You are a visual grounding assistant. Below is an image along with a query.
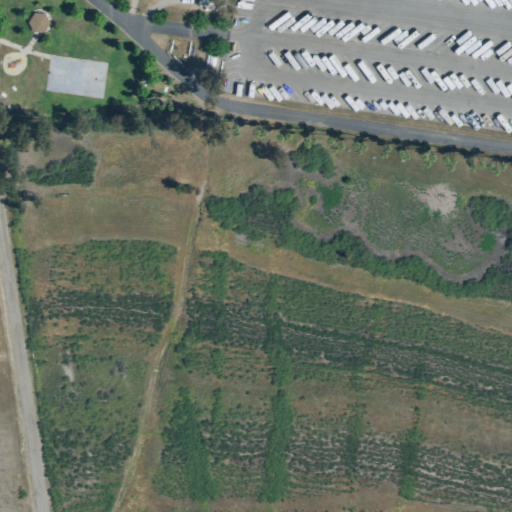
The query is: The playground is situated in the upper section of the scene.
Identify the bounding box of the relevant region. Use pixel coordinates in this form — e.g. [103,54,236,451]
[2,52,28,76]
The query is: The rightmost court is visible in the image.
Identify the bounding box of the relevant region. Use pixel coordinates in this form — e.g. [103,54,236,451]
[47,56,108,98]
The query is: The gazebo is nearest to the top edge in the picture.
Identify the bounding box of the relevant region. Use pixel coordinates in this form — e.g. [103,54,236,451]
[29,10,53,33]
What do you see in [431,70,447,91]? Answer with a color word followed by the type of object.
white camper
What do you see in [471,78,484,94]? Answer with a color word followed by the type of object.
white vehicle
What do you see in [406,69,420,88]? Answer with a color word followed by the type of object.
white camper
